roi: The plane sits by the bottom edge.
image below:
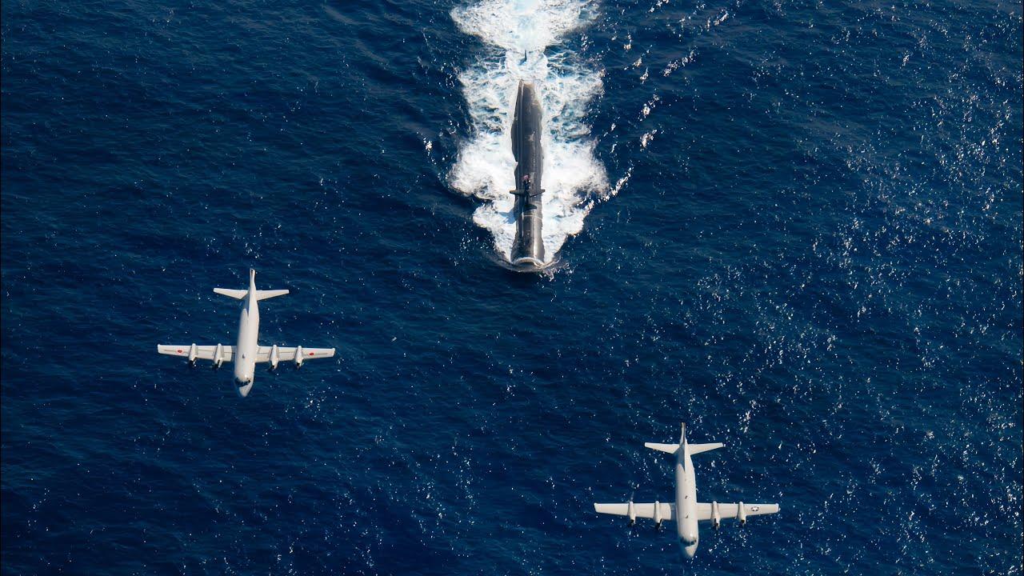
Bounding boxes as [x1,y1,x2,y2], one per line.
[595,423,779,560]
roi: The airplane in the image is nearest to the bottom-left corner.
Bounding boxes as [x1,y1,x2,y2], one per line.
[158,269,335,398]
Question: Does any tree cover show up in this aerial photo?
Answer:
No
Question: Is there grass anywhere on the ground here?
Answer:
No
